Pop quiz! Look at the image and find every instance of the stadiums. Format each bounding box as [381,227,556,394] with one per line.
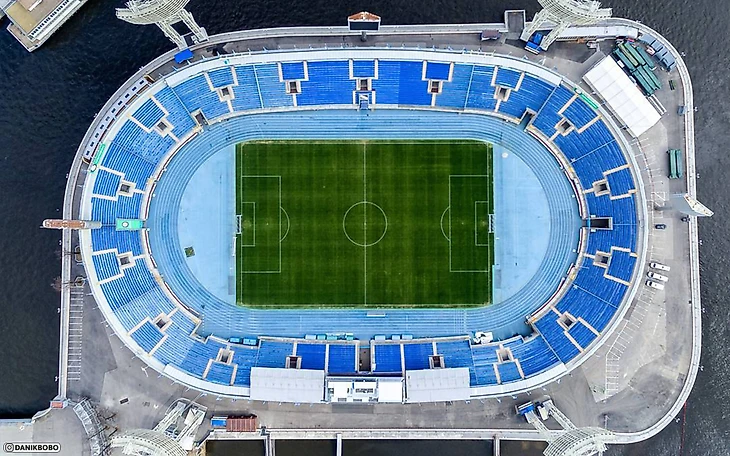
[74,42,654,408]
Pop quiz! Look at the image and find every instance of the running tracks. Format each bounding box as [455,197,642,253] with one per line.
[143,110,587,345]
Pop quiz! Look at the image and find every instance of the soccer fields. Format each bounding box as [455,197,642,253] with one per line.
[235,139,493,310]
